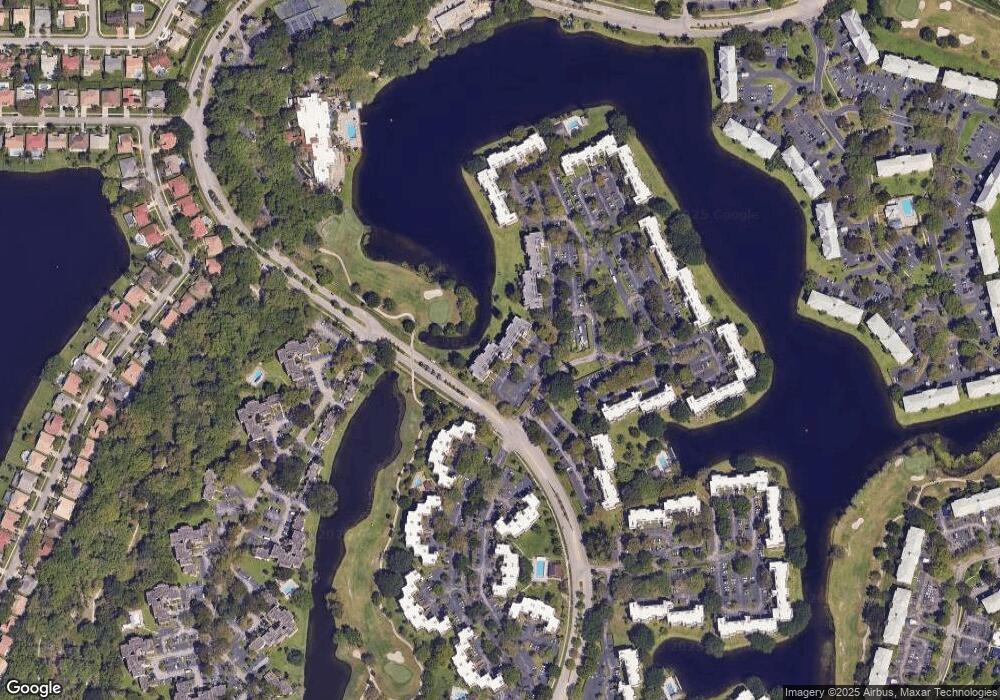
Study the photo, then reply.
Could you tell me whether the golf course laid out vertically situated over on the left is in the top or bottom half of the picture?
bottom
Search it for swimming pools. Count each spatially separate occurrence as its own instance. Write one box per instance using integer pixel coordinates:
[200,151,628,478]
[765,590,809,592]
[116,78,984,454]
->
[532,558,549,582]
[561,115,584,136]
[885,197,918,228]
[412,472,430,490]
[277,579,299,597]
[664,677,682,700]
[655,450,671,472]
[246,367,264,387]
[340,108,360,146]
[450,686,469,700]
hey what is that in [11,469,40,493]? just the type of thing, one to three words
house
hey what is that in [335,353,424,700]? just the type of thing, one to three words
golf course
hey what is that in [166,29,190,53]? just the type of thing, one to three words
house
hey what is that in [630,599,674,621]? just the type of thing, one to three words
building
